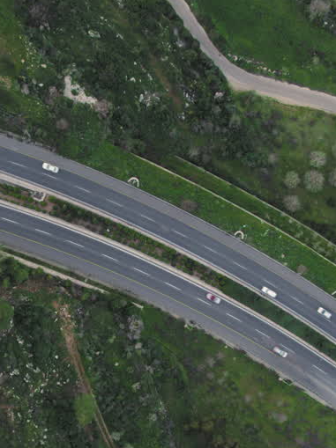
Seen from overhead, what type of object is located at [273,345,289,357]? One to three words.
vehicle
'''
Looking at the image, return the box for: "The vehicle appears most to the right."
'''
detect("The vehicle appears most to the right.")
[317,306,333,319]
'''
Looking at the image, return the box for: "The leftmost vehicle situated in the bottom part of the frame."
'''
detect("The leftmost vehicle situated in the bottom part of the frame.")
[205,292,221,304]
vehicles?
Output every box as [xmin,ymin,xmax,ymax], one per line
[261,286,279,299]
[42,162,58,173]
[273,345,289,357]
[317,306,333,319]
[205,292,221,304]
